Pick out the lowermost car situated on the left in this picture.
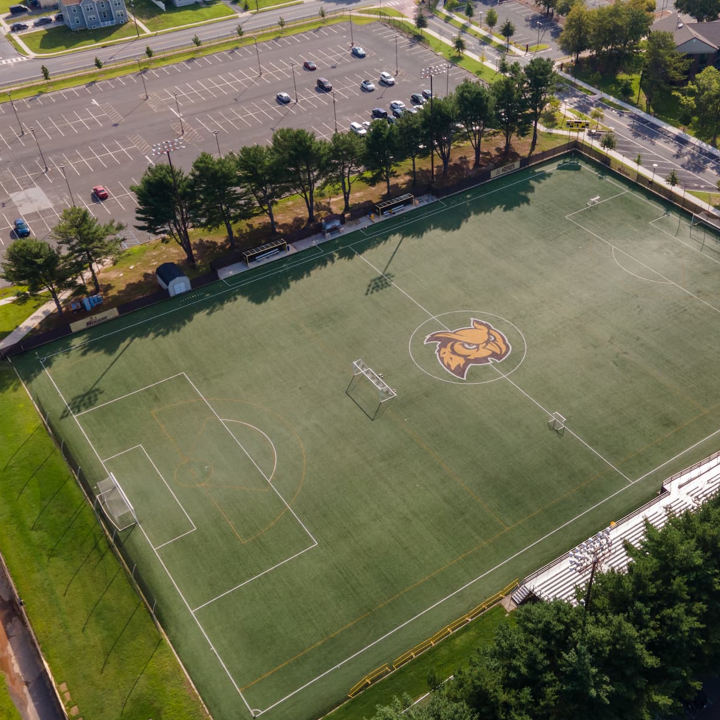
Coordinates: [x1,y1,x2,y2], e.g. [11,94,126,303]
[13,220,30,235]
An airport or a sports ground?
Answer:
sports ground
